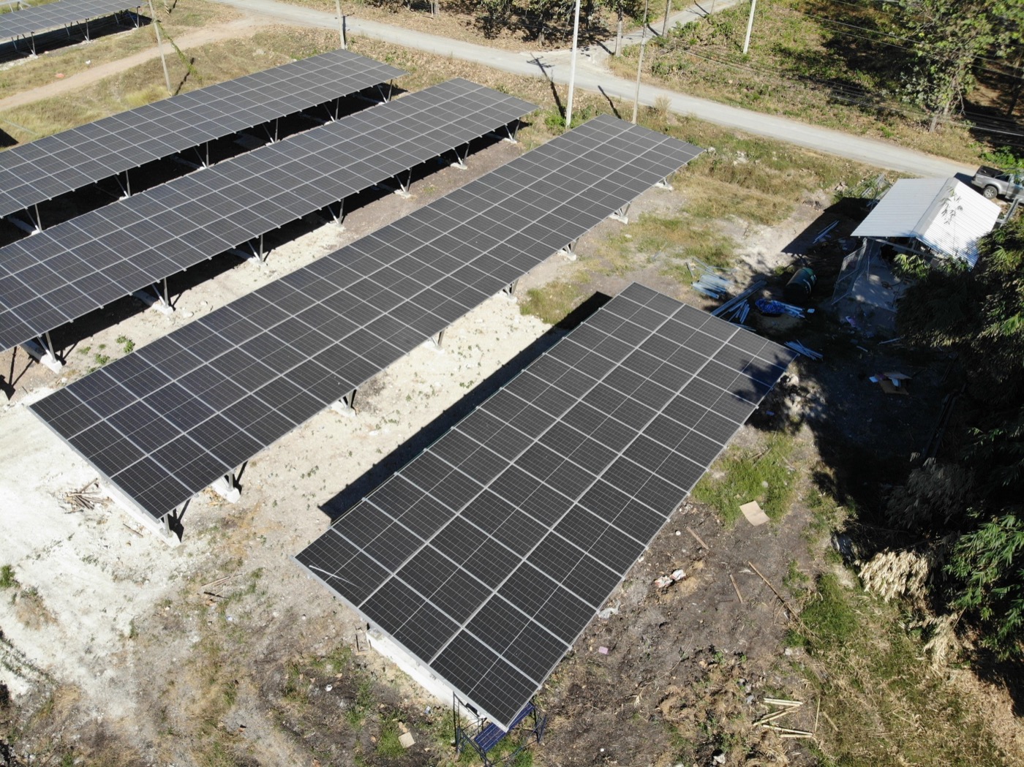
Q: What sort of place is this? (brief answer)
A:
solar farm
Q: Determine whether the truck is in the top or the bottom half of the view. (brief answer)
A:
top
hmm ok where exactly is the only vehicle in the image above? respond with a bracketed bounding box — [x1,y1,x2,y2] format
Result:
[969,161,1024,203]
